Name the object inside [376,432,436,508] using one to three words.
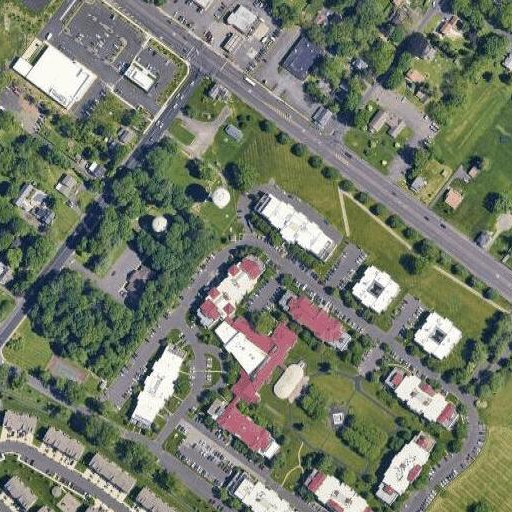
building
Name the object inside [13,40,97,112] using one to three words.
building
